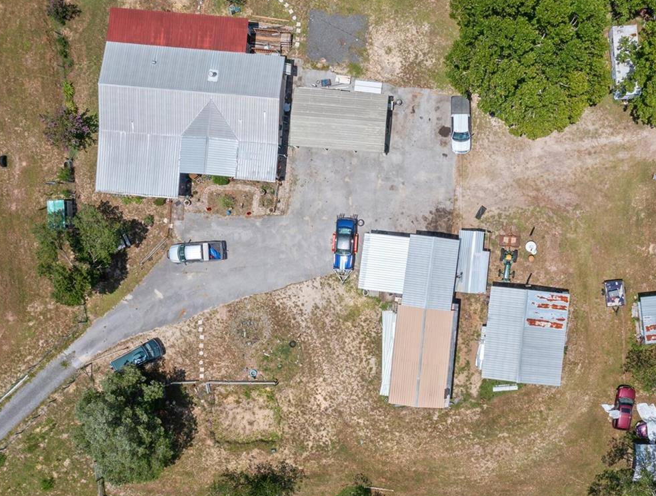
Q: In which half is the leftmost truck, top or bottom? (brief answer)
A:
bottom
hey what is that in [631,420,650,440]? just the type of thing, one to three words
car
